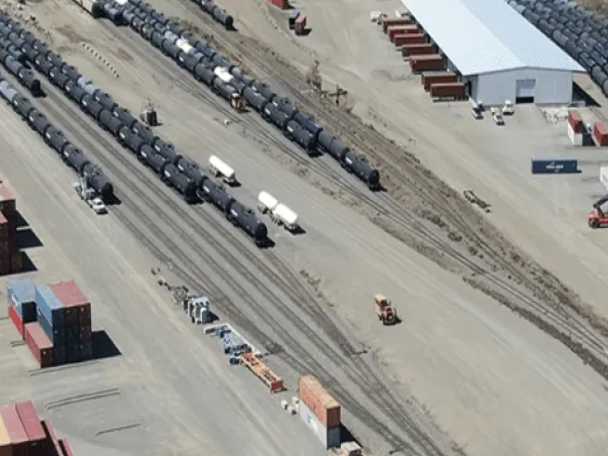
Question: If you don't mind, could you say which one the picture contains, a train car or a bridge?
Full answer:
It is a train car that can be seen here.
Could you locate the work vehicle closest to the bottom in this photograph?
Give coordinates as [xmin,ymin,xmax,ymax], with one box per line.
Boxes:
[373,292,404,325]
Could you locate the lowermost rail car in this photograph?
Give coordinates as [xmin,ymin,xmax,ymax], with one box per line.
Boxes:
[231,206,268,249]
